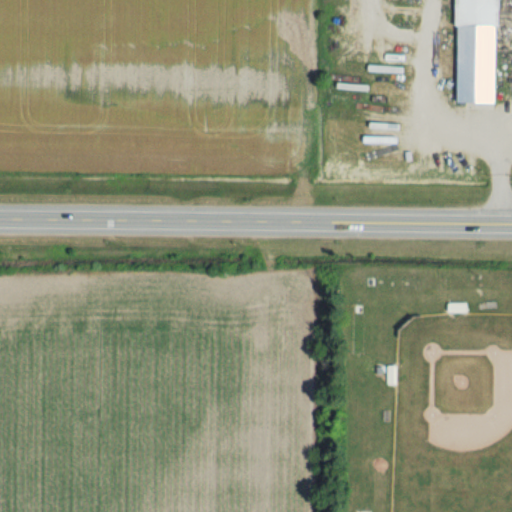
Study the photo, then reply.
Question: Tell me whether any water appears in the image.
No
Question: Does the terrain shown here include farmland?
Yes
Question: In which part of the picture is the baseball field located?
bottom right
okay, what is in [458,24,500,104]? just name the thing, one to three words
building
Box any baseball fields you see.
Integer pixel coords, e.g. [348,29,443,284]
[392,314,512,512]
